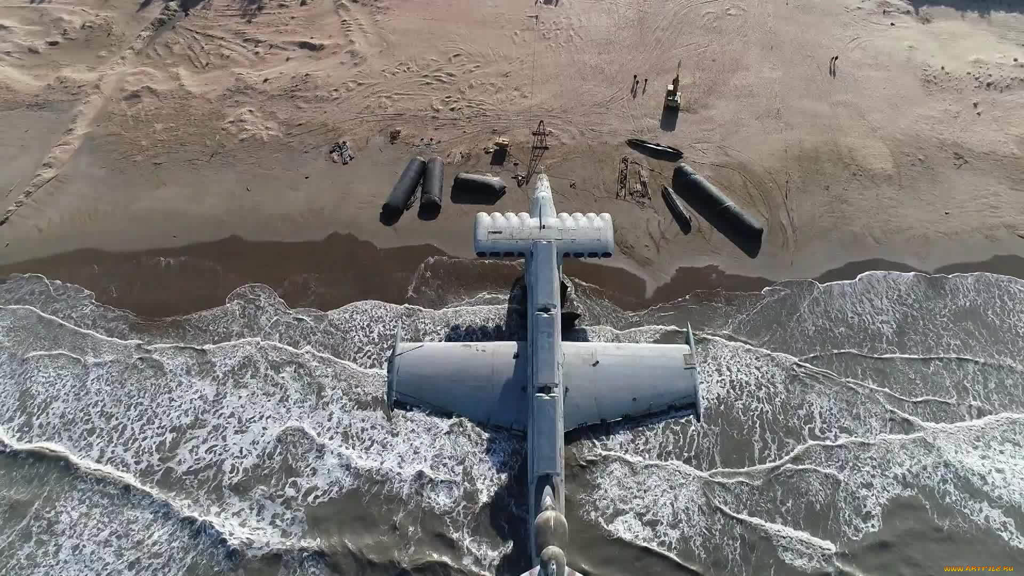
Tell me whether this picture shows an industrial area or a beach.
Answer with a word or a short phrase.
beach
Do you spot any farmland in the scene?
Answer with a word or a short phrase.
No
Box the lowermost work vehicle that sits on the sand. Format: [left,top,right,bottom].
[493,132,509,154]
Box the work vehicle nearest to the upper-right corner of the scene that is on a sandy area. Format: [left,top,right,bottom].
[664,58,684,111]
